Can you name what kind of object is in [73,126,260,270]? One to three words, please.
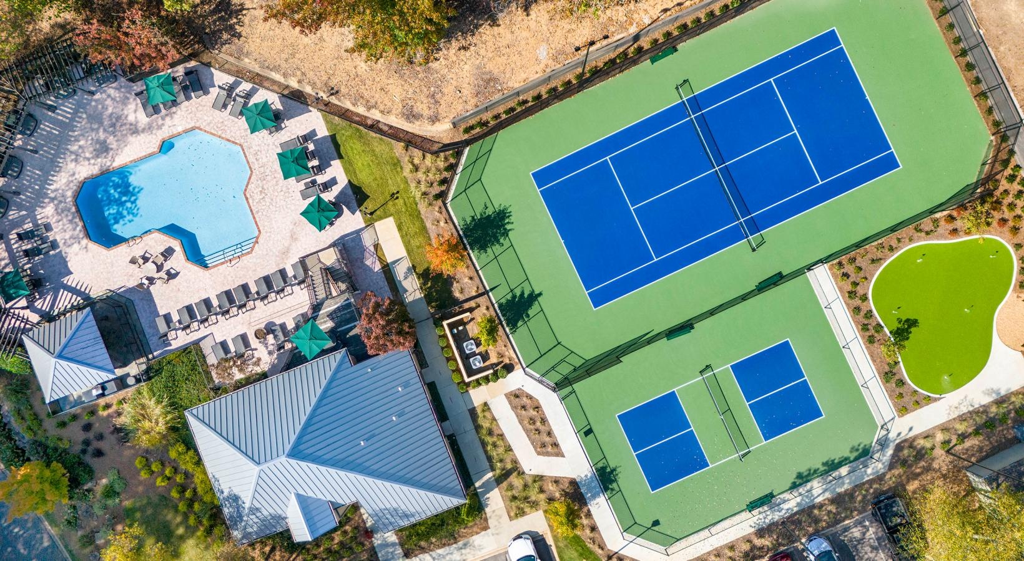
swimming pool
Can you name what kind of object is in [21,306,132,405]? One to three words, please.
building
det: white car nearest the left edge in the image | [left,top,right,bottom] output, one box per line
[510,531,542,561]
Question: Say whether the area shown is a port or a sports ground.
sports ground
